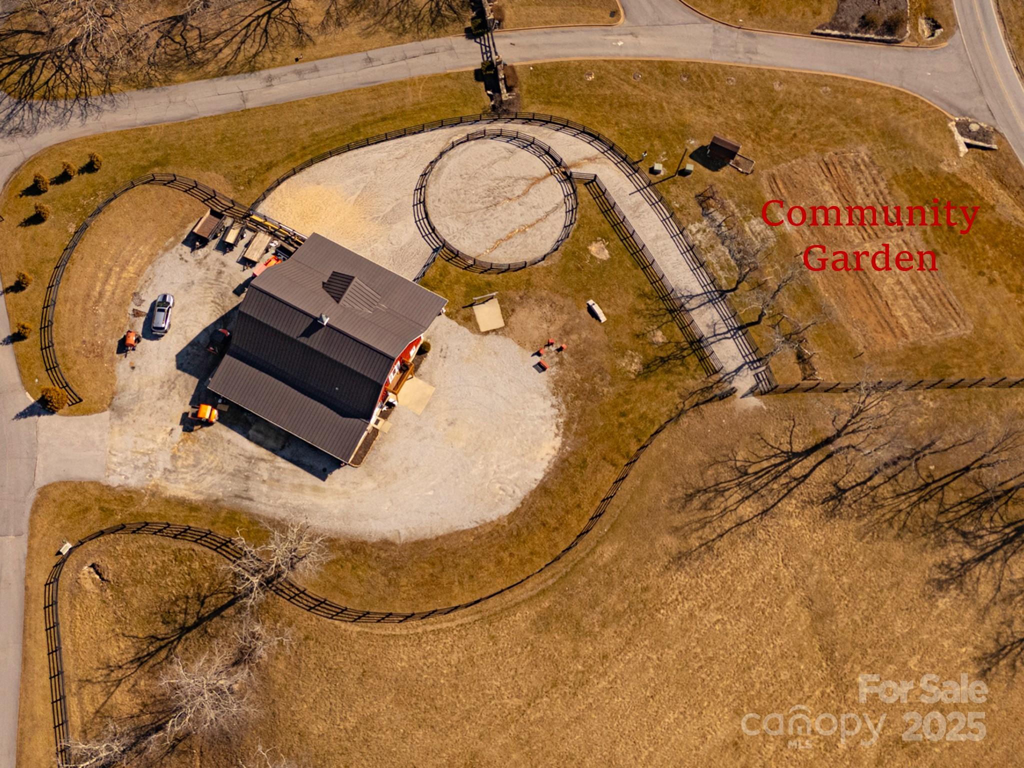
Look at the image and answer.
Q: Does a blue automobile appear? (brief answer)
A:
No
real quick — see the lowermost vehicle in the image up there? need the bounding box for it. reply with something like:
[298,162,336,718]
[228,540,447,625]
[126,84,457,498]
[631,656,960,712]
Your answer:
[183,405,222,427]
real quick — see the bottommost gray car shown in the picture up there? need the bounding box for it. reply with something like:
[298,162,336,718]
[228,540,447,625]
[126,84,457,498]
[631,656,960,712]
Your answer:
[148,295,175,335]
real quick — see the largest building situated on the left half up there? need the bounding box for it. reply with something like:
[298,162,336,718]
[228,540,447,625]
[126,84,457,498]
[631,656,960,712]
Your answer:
[209,233,448,464]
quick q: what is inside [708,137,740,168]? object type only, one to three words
shed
